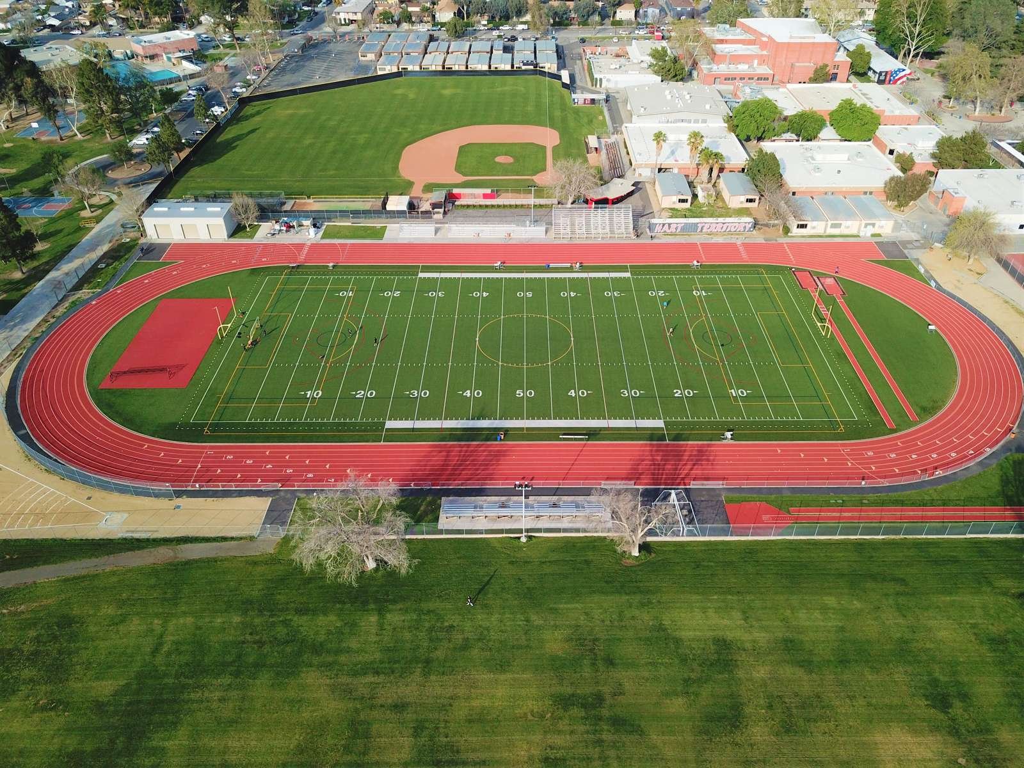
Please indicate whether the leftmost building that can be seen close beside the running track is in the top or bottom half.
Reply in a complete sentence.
You can find the leftmost building that can be seen close beside the running track in the top half.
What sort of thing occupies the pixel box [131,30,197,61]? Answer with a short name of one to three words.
building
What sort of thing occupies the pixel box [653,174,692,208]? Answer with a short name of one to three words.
building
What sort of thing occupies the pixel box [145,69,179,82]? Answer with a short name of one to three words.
swimming pool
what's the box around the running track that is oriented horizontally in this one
[20,259,1024,488]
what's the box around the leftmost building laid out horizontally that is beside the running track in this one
[142,203,239,239]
